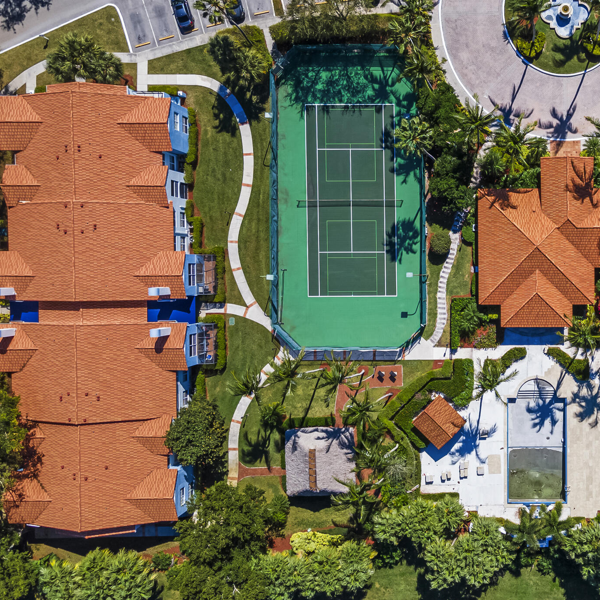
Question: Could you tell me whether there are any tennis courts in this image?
Yes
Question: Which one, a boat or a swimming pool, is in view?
swimming pool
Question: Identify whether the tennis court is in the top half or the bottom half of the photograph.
top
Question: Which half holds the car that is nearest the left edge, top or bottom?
top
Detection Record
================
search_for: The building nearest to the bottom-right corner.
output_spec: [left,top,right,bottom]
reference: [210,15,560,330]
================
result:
[411,394,467,450]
